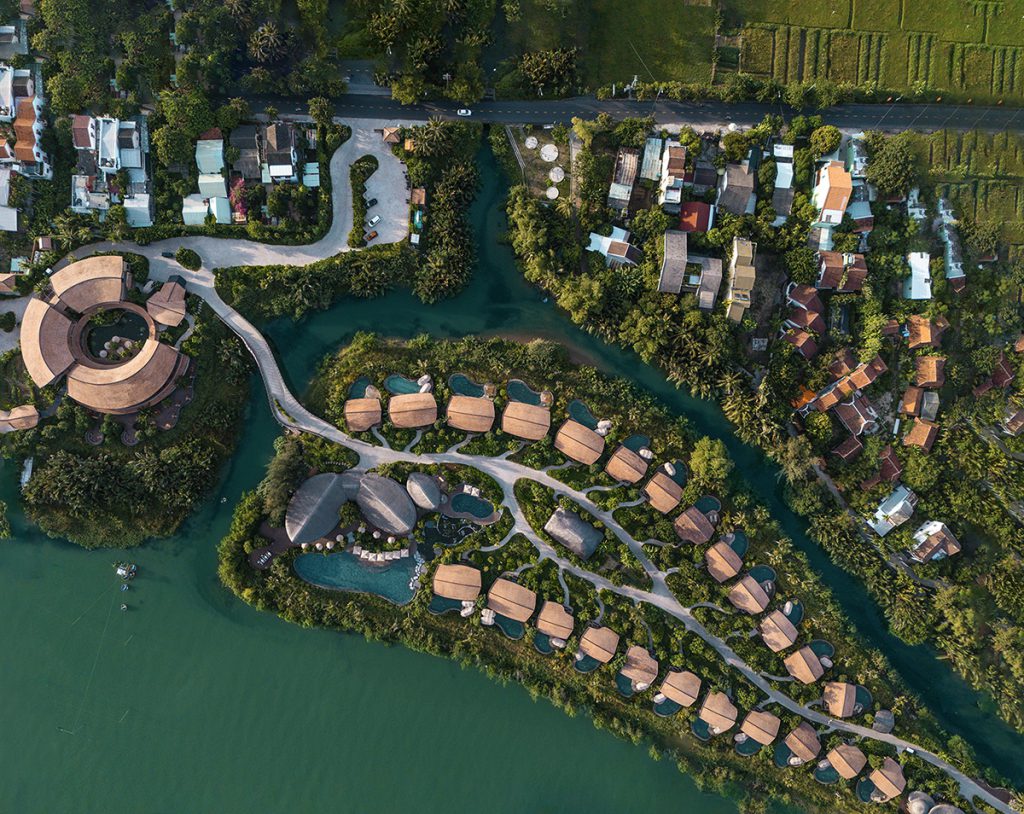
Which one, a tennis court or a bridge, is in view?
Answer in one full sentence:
The image shows a bridge.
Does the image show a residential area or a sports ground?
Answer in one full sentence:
The picture captures a residential area.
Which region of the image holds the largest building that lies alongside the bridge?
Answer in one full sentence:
The largest building that lies alongside the bridge sits in the left section of the image.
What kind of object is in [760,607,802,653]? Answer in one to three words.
house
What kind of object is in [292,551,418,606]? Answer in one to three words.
swimming pool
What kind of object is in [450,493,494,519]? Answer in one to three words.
swimming pool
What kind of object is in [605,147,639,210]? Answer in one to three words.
building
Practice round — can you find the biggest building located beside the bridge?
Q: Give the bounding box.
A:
[20,256,190,412]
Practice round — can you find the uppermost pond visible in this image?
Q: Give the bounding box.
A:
[86,308,146,364]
